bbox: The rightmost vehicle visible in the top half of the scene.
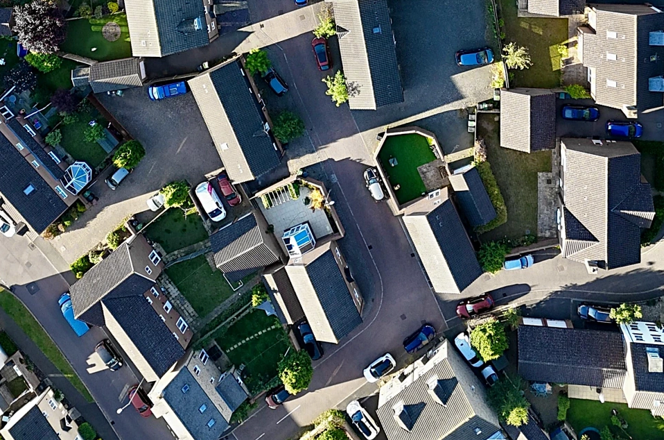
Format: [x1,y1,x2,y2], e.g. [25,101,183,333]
[605,119,642,139]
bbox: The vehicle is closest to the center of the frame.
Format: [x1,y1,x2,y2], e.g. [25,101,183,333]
[362,166,386,203]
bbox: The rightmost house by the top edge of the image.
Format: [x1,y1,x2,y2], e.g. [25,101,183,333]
[576,4,664,114]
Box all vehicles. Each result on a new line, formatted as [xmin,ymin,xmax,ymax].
[126,382,153,417]
[216,171,241,207]
[573,300,616,324]
[605,119,642,139]
[347,397,379,439]
[362,166,386,203]
[147,79,190,101]
[296,324,323,362]
[97,335,121,371]
[138,188,169,213]
[195,179,227,222]
[362,351,398,381]
[263,382,291,409]
[559,103,603,123]
[61,294,89,332]
[0,206,13,237]
[451,327,482,371]
[104,165,132,192]
[262,61,291,102]
[402,320,437,352]
[457,293,494,317]
[453,47,495,66]
[503,250,537,272]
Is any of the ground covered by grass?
Yes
